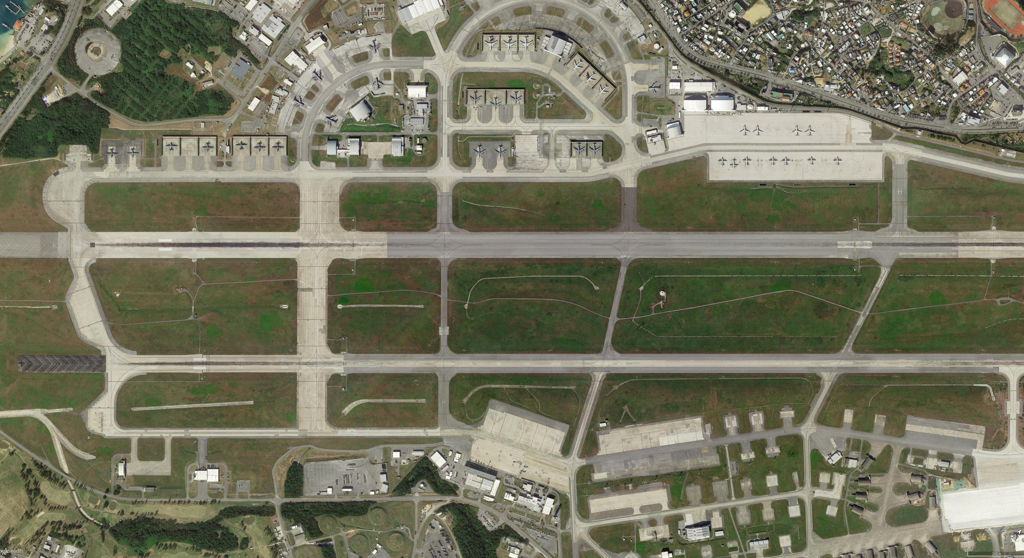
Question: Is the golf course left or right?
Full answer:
It is on the left.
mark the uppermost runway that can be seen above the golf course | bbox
[0,232,1024,258]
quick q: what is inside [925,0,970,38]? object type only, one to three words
baseball field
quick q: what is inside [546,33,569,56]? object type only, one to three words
hangar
